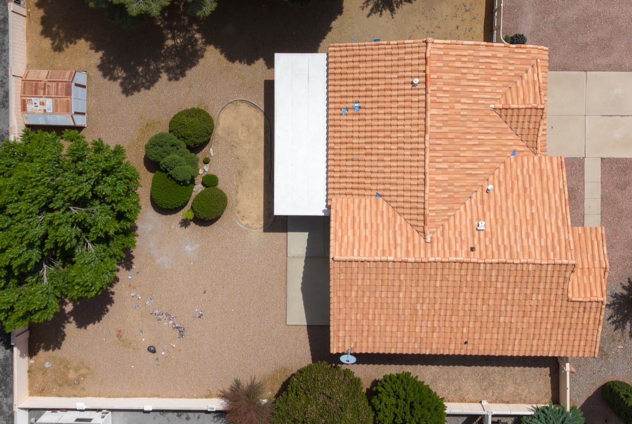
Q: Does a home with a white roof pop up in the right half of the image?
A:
No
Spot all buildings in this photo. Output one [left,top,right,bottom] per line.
[326,39,609,357]
[21,70,86,125]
